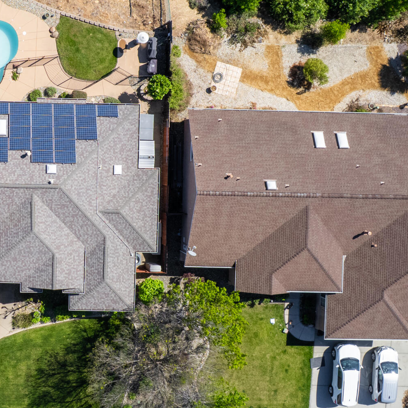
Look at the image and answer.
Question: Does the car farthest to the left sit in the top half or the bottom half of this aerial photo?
bottom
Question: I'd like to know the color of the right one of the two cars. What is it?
white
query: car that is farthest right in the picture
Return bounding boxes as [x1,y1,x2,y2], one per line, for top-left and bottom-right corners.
[369,345,403,404]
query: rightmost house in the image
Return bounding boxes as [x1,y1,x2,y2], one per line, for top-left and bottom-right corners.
[180,106,408,341]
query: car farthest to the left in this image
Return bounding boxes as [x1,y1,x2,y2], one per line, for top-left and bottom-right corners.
[330,341,366,407]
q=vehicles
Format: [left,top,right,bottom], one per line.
[330,341,366,407]
[369,345,403,404]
